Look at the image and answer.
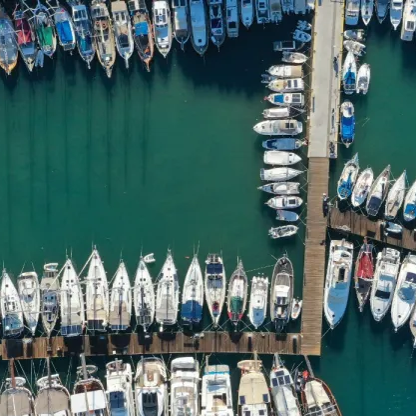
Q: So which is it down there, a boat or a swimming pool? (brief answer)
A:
boat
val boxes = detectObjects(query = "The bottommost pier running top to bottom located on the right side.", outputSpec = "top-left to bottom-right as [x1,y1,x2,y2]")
[301,157,330,355]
